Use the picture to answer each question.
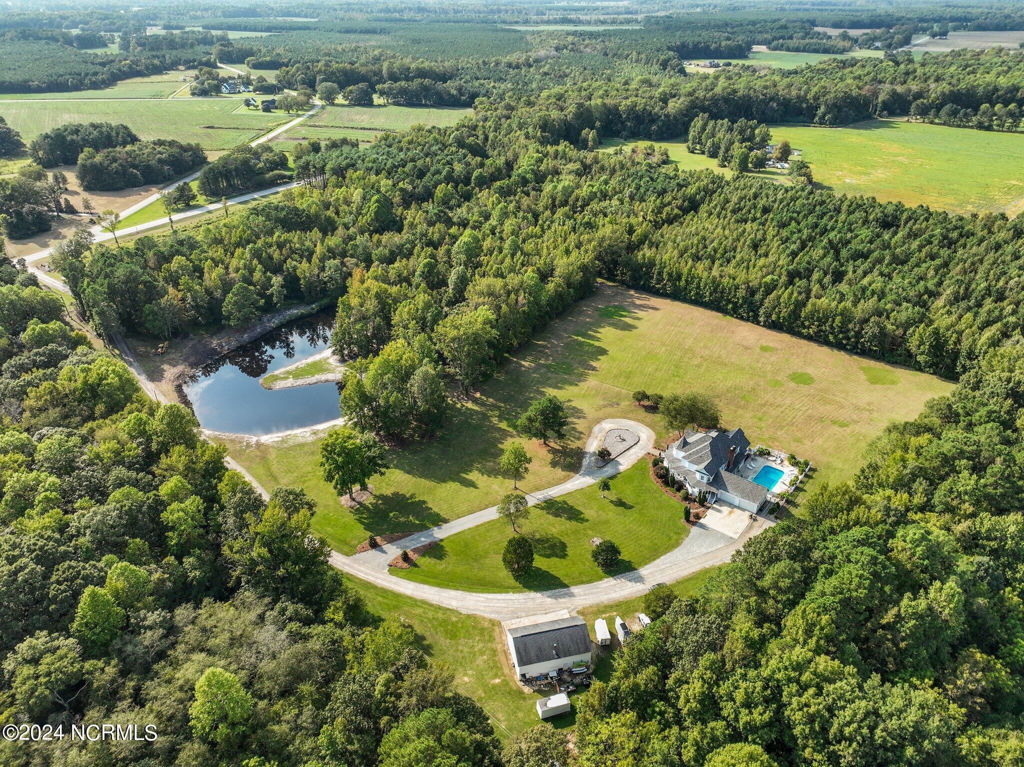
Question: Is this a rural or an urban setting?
rural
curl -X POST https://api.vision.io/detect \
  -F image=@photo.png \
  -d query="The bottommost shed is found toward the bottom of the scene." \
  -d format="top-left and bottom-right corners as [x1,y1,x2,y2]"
[537,692,571,718]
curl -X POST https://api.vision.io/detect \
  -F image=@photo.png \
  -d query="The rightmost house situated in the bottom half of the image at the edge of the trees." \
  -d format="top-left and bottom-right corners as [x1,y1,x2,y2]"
[664,425,768,513]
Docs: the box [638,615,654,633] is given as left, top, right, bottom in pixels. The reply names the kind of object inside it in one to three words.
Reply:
vehicle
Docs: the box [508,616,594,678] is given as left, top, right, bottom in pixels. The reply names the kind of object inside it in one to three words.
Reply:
barn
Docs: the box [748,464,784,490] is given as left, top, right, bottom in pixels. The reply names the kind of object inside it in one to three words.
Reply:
swimming pool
